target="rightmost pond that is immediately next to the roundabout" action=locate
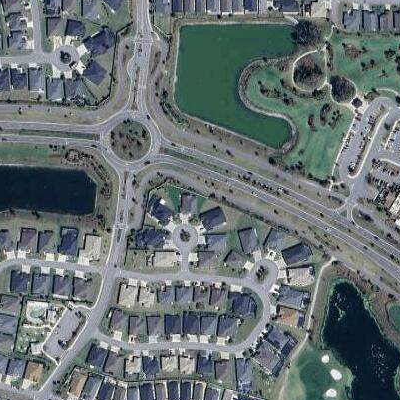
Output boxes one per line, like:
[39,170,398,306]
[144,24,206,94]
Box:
[174,23,298,149]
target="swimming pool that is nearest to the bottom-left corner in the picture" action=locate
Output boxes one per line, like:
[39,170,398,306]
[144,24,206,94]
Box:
[26,301,47,323]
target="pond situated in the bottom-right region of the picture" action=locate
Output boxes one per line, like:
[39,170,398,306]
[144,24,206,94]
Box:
[322,278,400,400]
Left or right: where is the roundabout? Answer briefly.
left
